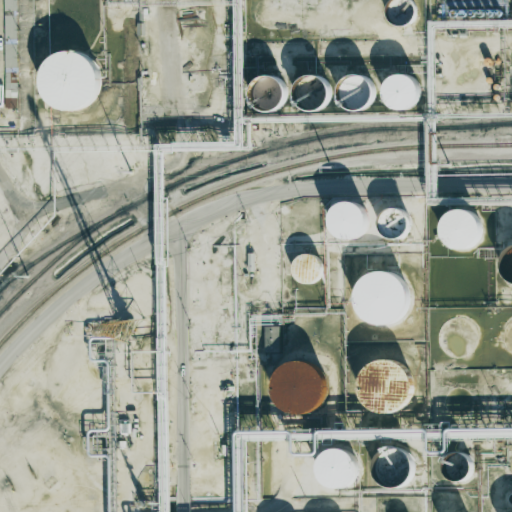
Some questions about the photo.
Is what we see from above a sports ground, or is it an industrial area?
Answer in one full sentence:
The area seen from above is an industrial area.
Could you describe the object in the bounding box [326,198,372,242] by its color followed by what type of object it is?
white storage tank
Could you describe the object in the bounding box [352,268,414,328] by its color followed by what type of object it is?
white storage tank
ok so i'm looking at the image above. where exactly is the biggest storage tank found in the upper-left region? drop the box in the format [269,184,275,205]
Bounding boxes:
[37,48,104,114]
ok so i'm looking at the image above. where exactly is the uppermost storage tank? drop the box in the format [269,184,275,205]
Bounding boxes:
[384,0,420,30]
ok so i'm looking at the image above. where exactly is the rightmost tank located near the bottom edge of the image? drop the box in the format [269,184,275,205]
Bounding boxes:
[439,450,477,486]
